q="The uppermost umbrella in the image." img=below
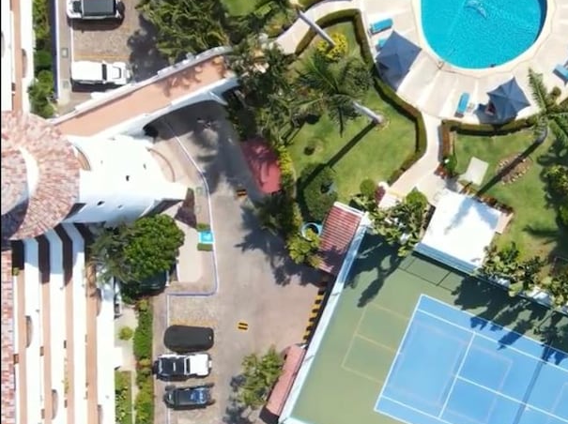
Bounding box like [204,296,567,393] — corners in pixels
[376,26,425,74]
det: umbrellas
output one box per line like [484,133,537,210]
[488,79,526,120]
[376,26,425,74]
